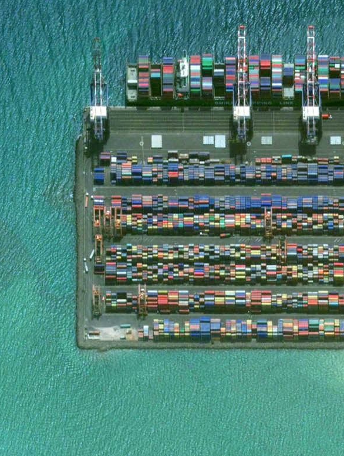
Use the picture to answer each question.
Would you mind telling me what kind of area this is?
port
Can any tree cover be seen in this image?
No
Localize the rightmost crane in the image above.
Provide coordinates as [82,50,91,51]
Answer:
[300,26,321,143]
